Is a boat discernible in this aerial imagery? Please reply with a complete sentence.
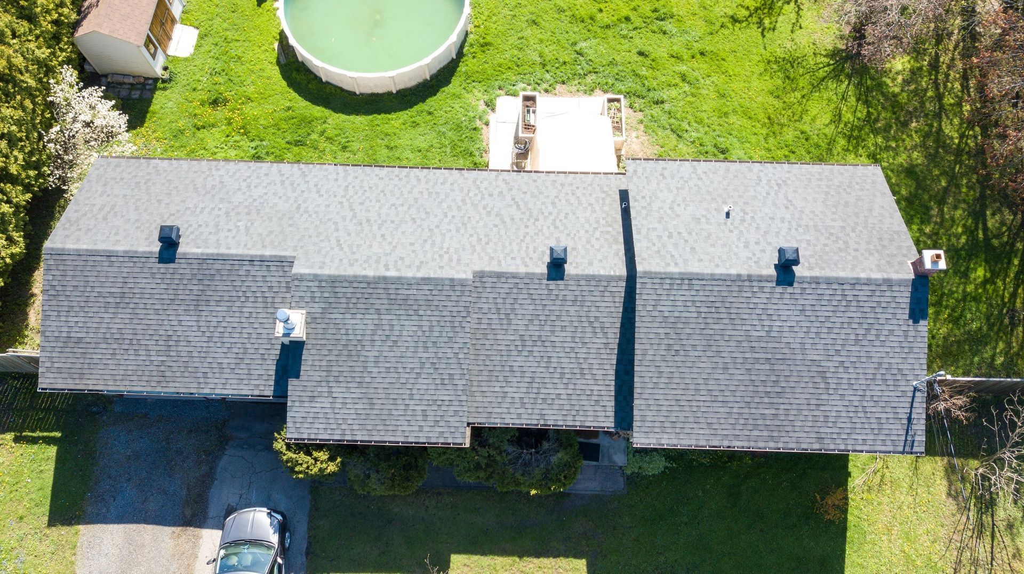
No, the photo shows no boat.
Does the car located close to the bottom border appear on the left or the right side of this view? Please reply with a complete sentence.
The car located close to the bottom border sits on the left side.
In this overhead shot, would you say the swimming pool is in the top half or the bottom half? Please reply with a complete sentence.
The top half of the photo is where the swimming pool is.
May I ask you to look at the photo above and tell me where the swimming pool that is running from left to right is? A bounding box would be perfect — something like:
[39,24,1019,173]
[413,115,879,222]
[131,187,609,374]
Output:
[278,0,473,92]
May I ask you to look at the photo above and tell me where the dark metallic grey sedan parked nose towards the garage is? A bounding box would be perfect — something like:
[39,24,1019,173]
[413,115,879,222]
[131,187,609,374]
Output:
[208,508,288,574]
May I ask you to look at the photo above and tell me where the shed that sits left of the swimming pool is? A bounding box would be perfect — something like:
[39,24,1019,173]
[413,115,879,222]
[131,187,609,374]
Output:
[74,0,184,75]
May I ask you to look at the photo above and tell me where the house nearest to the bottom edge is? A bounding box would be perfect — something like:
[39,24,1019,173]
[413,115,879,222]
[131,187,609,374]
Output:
[38,154,950,467]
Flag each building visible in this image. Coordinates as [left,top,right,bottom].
[74,0,184,75]
[38,154,950,467]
